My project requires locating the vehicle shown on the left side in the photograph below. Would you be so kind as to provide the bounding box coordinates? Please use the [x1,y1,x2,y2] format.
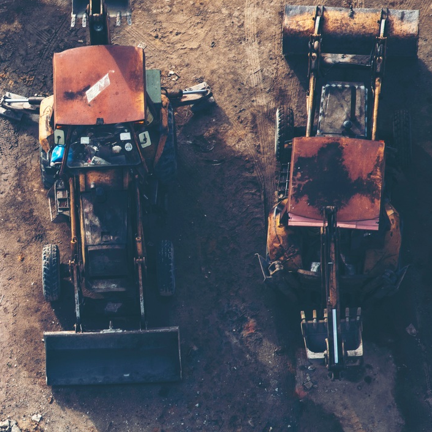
[0,0,201,395]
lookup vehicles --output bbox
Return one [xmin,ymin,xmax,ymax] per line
[0,0,201,395]
[252,8,420,387]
